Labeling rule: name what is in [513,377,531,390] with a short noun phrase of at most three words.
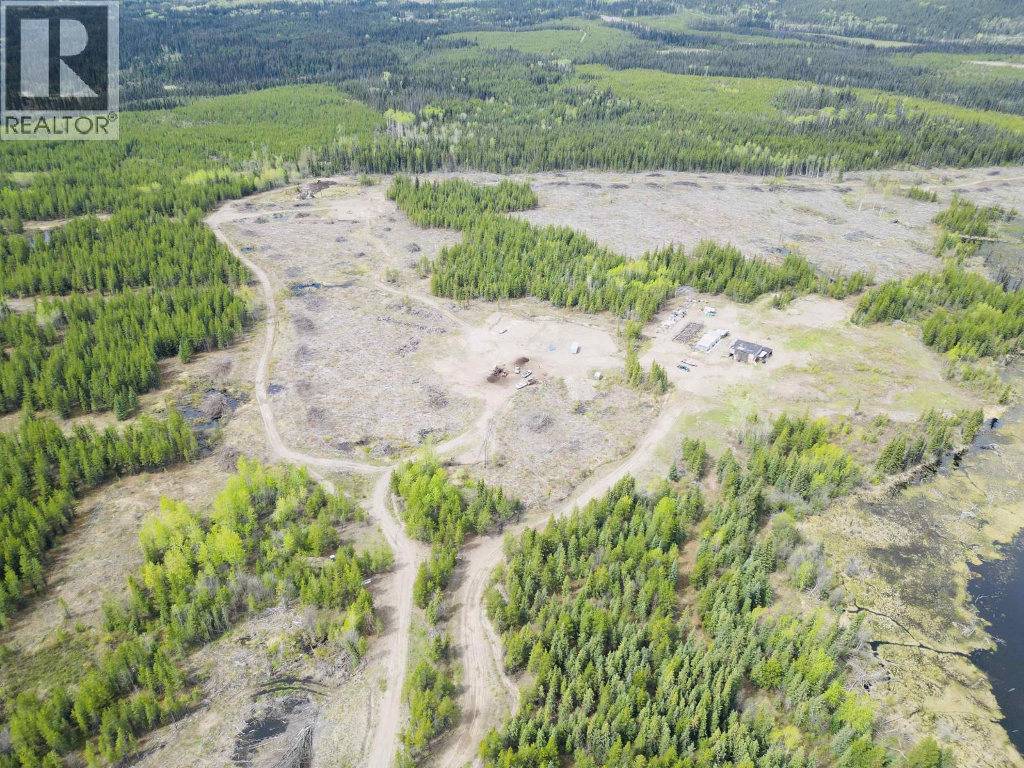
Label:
vehicle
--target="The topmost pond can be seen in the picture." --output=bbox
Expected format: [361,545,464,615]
[961,221,1024,295]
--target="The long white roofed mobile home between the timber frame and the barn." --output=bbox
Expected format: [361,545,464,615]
[694,327,729,356]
